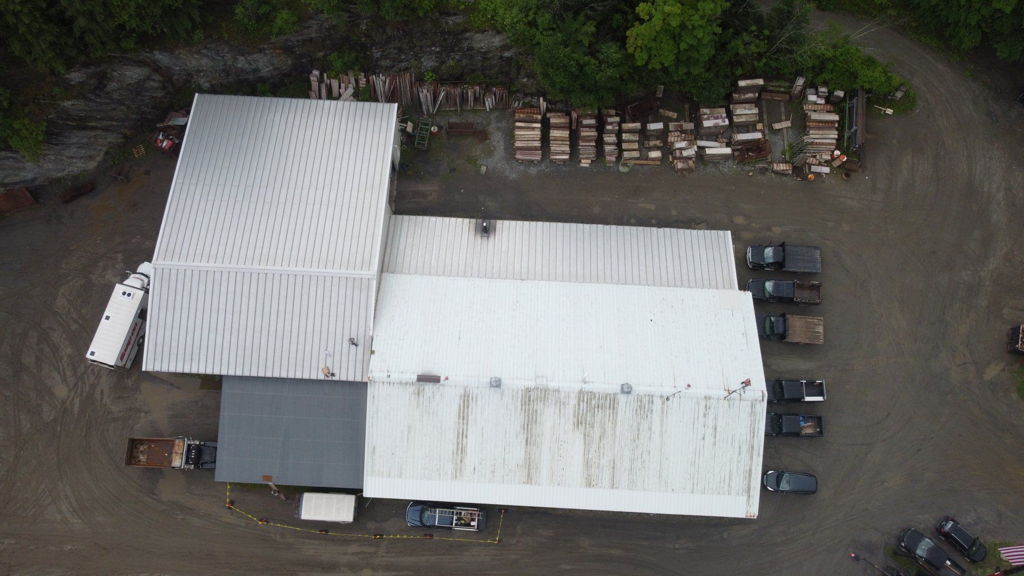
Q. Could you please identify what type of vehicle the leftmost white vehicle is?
truck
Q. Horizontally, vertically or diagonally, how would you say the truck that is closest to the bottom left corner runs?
horizontally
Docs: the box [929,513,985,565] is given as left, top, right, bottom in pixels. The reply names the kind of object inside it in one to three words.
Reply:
car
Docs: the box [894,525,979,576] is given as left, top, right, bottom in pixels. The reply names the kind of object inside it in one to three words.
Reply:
truck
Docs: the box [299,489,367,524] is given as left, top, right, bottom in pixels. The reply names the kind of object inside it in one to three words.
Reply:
van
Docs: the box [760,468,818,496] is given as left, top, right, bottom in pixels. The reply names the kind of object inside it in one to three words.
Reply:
car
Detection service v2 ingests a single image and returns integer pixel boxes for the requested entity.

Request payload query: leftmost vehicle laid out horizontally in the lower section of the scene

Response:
[122,436,217,472]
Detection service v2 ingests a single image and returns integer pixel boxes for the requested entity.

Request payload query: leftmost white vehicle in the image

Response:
[86,260,151,373]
